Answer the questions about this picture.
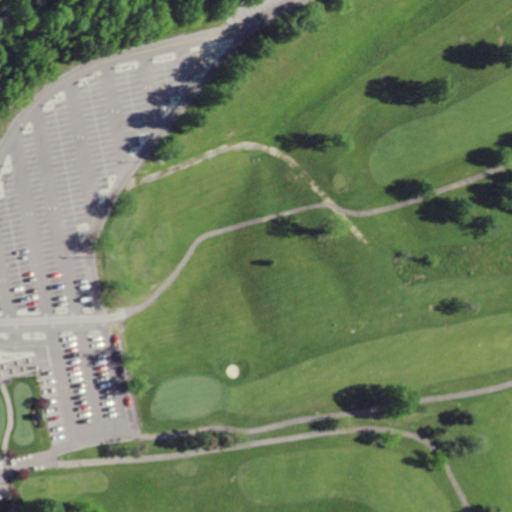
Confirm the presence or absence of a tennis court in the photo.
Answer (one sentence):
No, I can't see a single tennis court in this photo.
